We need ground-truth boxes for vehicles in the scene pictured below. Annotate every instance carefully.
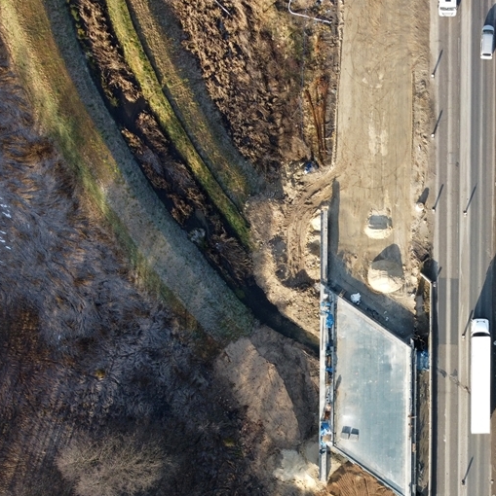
[471,317,490,441]
[436,0,458,16]
[480,26,495,60]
